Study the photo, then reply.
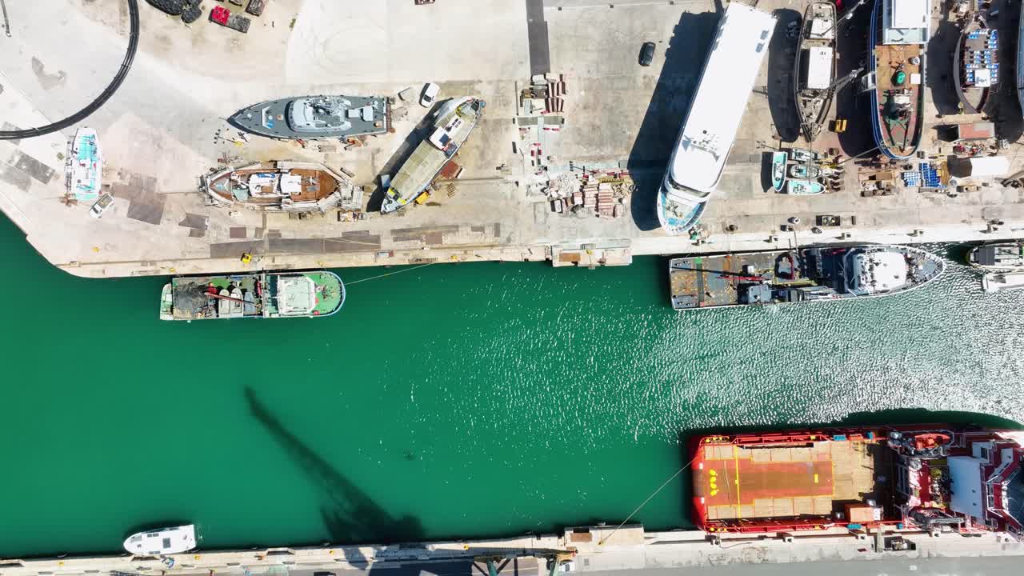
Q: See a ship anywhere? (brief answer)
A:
Yes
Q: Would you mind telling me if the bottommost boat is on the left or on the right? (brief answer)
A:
left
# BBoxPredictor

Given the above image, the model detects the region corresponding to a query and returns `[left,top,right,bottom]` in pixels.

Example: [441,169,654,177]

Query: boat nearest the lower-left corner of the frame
[122,523,198,553]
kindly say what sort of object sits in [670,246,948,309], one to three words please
ship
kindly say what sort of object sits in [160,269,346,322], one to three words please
boat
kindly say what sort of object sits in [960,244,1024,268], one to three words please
boat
